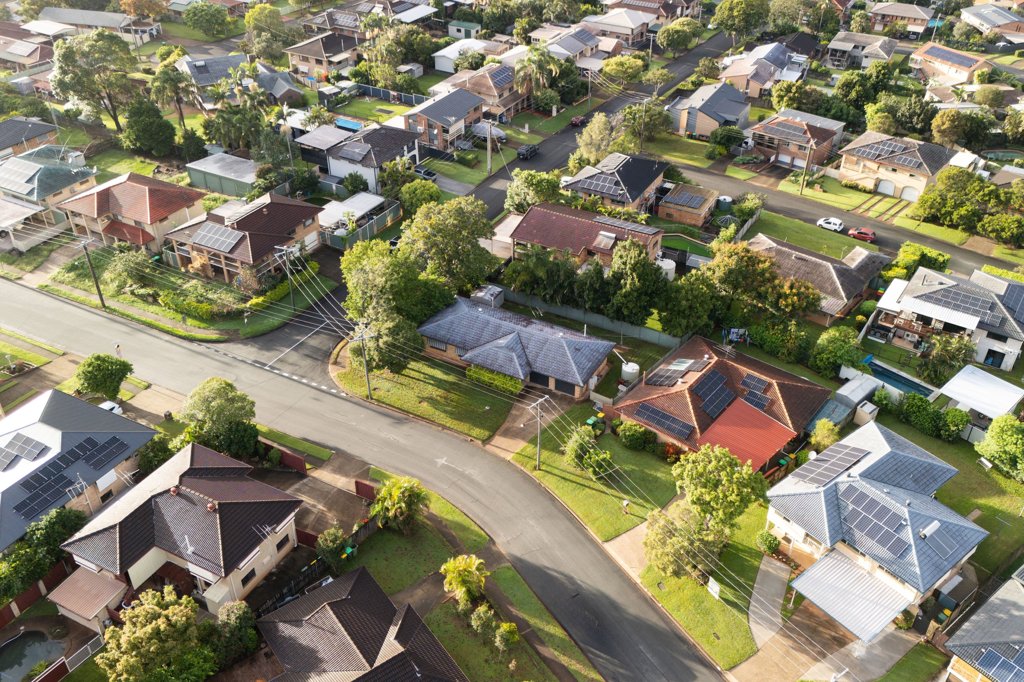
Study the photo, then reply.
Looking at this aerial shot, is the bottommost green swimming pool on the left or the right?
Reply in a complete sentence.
You can find the bottommost green swimming pool on the right side of the picture.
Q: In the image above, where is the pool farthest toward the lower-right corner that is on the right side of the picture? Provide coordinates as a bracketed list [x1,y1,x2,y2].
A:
[864,359,930,394]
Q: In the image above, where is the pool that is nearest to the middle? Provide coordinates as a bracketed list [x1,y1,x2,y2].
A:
[664,235,703,258]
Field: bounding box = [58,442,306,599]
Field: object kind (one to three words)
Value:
house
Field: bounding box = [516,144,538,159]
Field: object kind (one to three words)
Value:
car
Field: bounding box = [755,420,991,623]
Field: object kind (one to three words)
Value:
house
